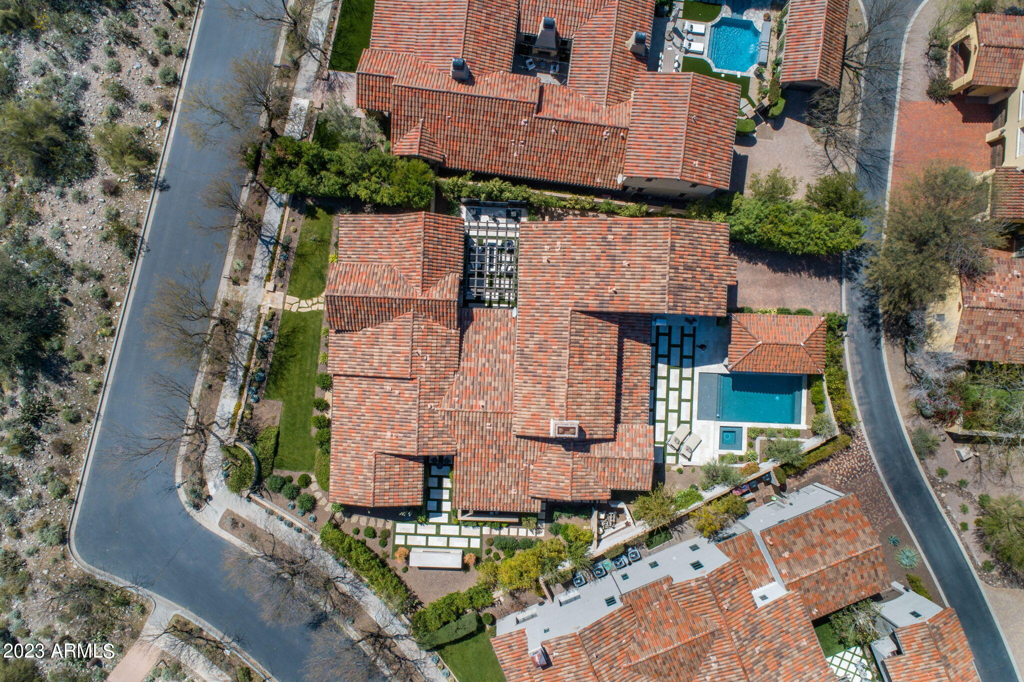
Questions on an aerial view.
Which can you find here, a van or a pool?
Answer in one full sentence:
Visible in the photo is a pool.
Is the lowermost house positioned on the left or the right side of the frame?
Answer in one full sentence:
The lowermost house is on the right side of the image.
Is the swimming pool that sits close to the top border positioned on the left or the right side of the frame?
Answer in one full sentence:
It is on the right.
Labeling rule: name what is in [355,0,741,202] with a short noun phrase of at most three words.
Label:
house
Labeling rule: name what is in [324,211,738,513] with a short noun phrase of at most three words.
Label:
house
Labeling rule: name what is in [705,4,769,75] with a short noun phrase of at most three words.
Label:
swimming pool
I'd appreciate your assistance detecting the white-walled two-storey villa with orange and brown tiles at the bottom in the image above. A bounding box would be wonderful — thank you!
[491,482,982,682]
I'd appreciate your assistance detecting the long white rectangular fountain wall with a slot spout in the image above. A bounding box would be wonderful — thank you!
[410,549,463,568]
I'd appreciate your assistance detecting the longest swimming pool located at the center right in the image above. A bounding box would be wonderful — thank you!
[697,373,803,424]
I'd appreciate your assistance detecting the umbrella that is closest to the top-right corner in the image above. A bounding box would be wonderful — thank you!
[664,10,676,40]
